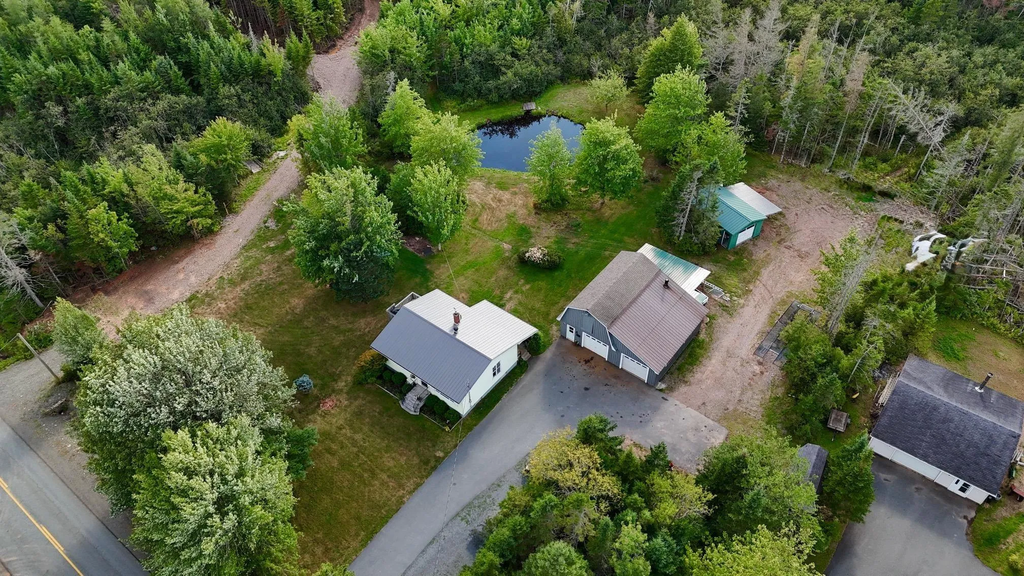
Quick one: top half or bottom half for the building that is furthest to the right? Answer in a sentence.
You can find the building that is furthest to the right in the bottom half.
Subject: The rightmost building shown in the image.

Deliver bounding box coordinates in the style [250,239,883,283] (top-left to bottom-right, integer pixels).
[868,354,1024,503]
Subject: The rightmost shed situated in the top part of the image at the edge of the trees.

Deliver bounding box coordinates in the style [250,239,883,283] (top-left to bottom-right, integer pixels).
[699,182,781,249]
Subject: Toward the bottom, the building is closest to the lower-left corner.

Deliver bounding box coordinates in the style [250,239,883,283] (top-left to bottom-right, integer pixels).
[370,289,541,417]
